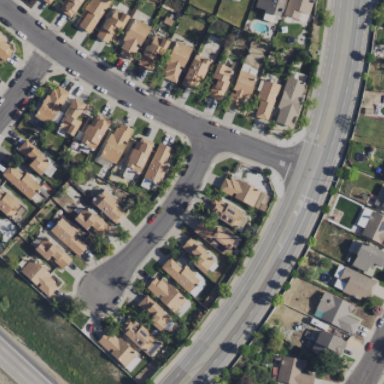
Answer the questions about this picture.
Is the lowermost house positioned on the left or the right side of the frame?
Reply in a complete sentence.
It is on the right.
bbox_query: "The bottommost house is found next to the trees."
[277,358,310,384]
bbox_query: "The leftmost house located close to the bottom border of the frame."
[96,329,141,371]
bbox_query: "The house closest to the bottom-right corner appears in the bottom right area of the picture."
[314,325,350,359]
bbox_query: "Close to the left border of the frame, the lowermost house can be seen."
[16,258,60,300]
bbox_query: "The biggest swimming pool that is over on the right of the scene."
[252,22,270,34]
